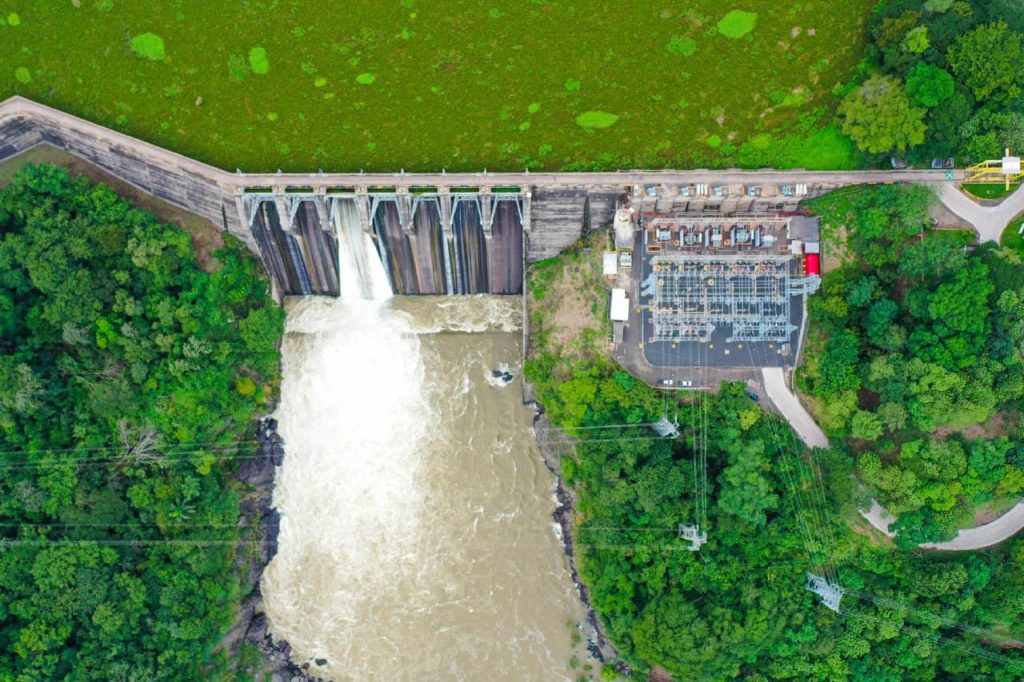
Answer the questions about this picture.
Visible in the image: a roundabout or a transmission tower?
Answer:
transmission tower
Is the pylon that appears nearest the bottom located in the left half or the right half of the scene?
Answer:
right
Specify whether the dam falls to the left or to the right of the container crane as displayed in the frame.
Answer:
to the left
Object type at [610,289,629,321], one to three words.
building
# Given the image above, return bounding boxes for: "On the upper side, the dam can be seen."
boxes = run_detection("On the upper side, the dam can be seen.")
[0,95,959,410]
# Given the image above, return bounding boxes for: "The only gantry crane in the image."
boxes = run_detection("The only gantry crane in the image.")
[963,148,1024,190]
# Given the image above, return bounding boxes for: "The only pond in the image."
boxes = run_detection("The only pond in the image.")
[0,0,868,197]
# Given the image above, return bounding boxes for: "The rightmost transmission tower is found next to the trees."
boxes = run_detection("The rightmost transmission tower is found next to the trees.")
[803,568,851,610]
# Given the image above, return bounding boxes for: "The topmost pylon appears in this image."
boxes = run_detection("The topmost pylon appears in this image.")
[647,416,677,447]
